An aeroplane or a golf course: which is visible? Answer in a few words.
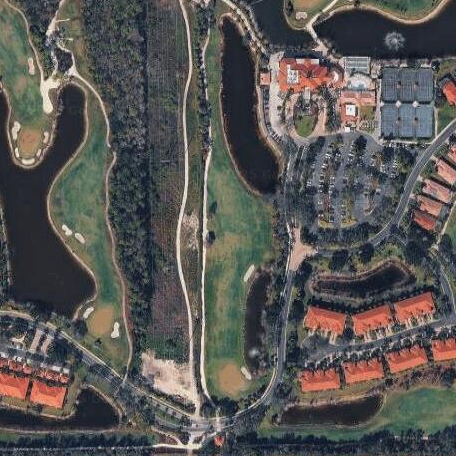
golf course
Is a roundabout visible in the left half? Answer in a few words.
No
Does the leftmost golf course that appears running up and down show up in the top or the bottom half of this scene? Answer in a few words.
top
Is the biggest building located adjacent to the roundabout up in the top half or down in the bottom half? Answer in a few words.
top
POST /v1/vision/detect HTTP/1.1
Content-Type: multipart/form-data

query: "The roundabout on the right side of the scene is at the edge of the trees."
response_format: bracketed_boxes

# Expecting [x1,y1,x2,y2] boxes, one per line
[283,97,325,140]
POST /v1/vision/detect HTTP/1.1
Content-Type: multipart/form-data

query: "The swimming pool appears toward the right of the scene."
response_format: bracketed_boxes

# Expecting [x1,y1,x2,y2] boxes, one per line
[347,73,375,90]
